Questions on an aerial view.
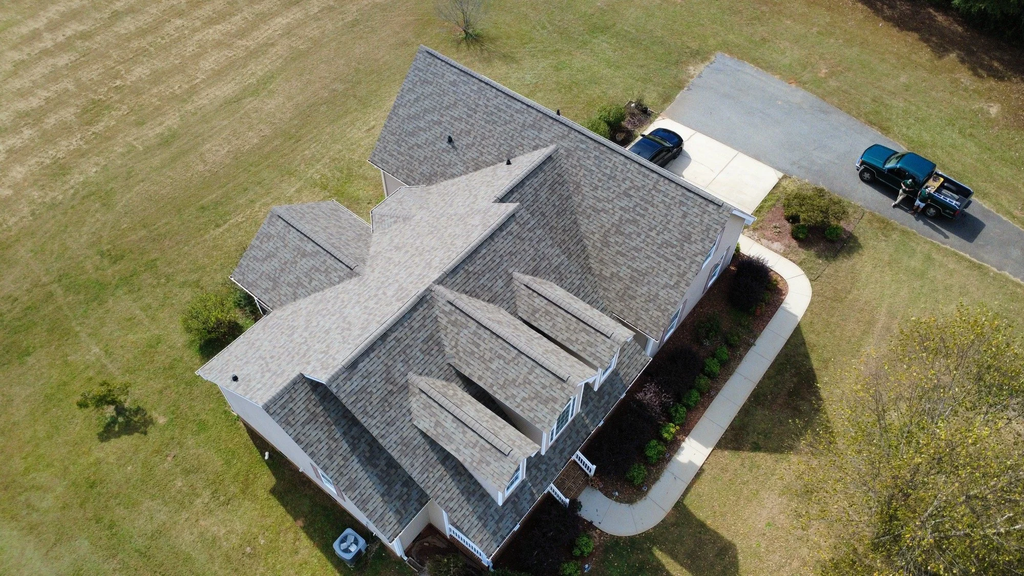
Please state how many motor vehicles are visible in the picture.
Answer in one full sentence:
The picture shows 2 motor vehicles.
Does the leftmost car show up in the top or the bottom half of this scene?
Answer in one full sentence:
The leftmost car is in the top half of the image.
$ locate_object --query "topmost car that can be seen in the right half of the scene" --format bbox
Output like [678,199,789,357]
[628,124,684,166]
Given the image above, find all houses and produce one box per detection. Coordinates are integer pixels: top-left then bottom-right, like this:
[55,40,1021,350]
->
[194,45,758,576]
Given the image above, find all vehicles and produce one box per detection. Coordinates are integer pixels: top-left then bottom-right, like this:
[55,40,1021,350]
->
[628,124,684,166]
[851,145,975,221]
